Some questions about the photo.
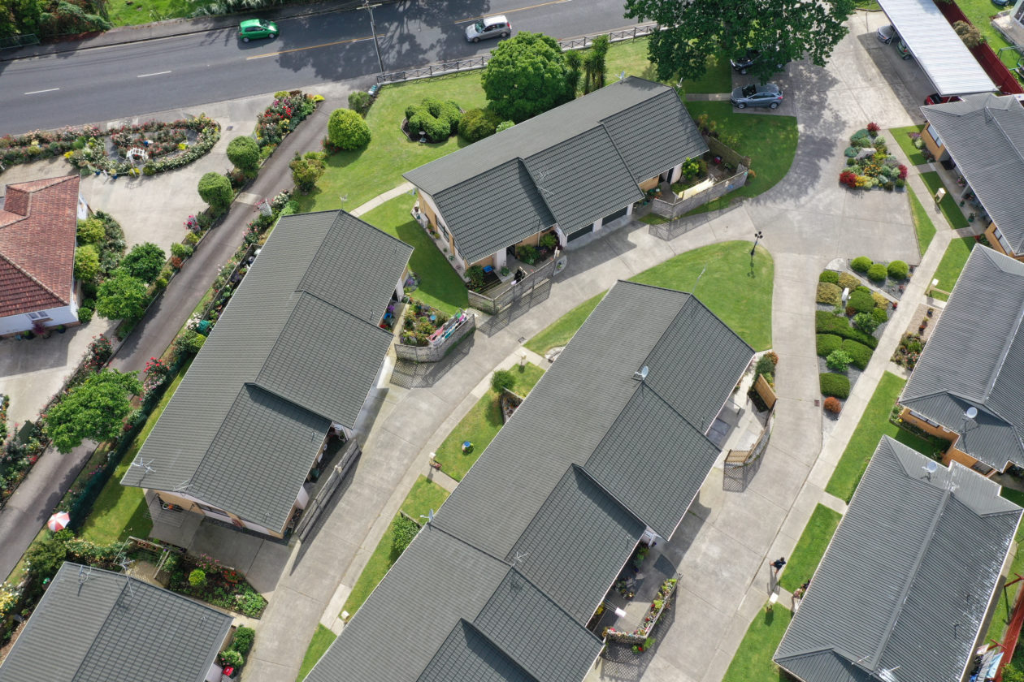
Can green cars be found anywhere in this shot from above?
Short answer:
Yes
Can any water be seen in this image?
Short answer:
No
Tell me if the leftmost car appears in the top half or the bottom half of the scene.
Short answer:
top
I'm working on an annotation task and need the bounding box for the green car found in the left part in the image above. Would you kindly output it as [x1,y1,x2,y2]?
[234,15,279,41]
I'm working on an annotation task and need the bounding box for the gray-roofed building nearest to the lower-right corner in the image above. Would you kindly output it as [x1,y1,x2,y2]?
[772,433,1022,682]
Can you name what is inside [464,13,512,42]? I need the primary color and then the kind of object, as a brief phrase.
gray car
